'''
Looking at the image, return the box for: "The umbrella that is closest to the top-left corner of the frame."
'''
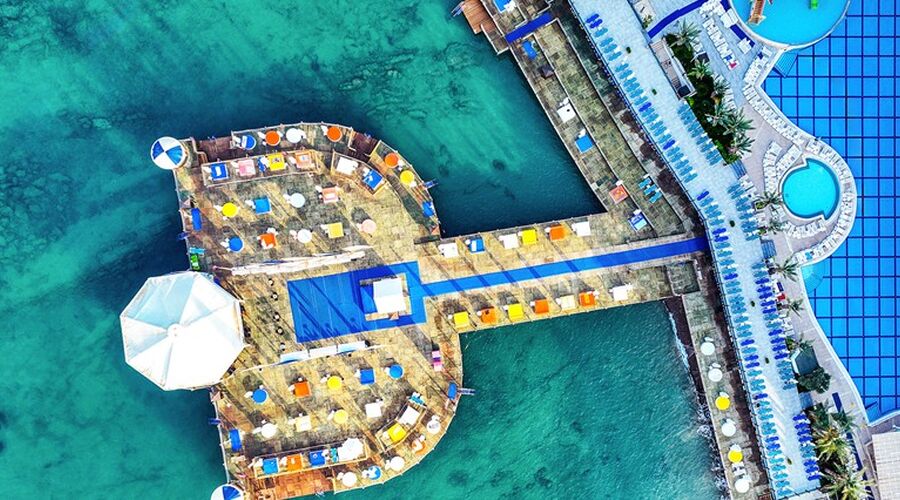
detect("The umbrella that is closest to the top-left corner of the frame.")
[151,136,185,170]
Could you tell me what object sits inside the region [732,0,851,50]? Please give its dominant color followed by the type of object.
blue swimming pool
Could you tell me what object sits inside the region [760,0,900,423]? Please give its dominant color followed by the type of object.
blue swimming pool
